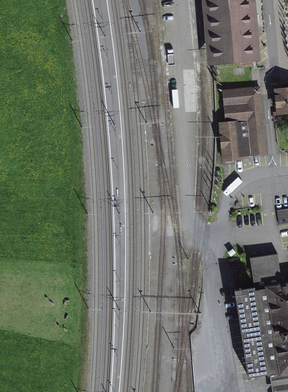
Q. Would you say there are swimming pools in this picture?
No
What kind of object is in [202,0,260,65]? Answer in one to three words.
building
